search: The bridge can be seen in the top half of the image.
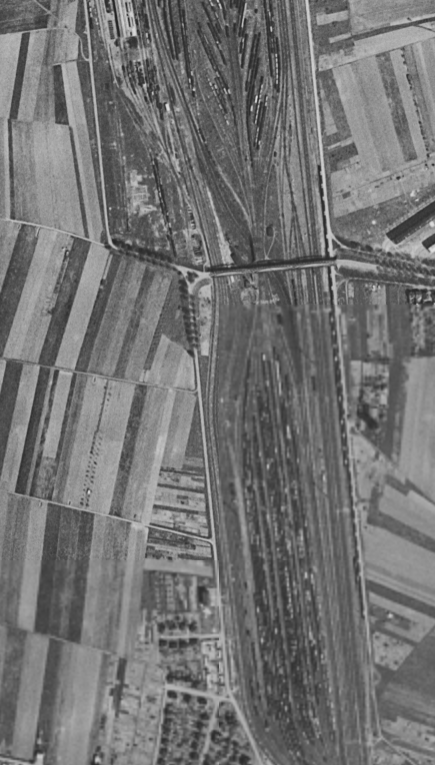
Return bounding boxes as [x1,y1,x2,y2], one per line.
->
[207,258,339,277]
